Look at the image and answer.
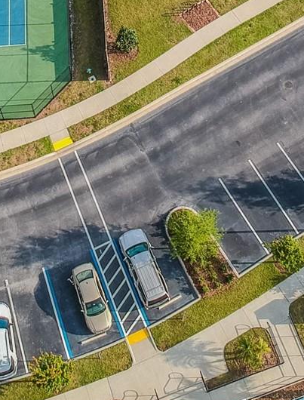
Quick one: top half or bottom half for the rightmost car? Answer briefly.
bottom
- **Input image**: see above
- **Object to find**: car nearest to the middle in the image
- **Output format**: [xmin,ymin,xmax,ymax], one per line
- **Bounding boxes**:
[121,231,167,306]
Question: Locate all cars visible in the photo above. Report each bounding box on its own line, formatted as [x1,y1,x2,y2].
[0,302,19,380]
[121,231,167,306]
[72,263,113,336]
